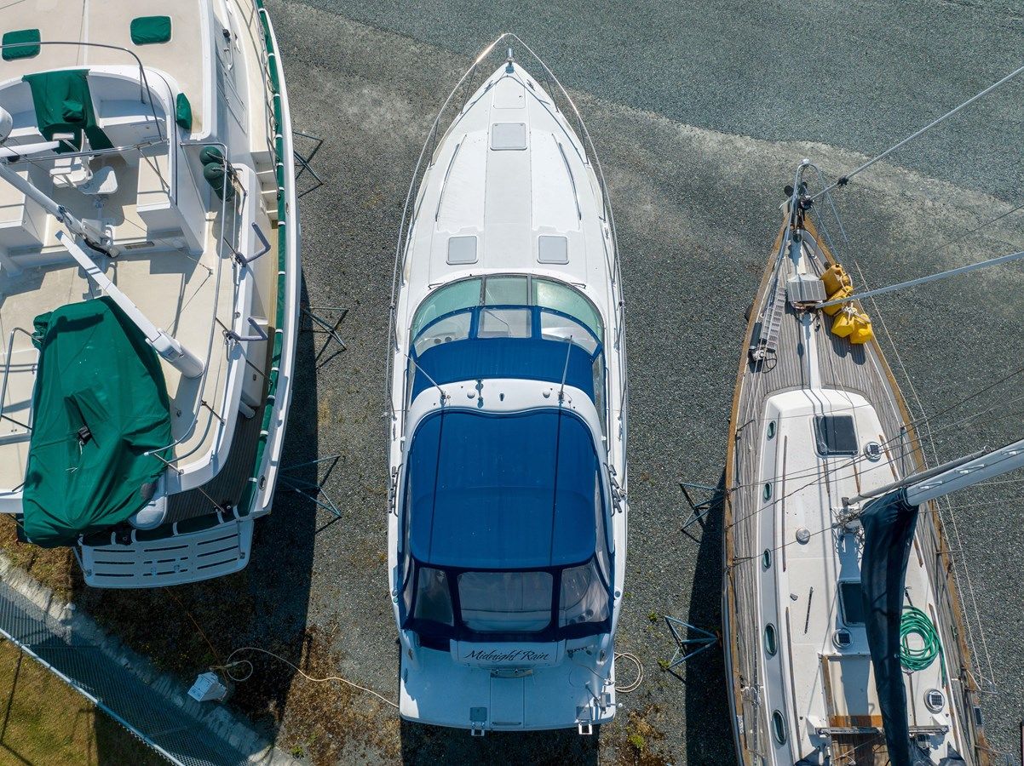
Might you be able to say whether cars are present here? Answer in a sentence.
No, there appears to be no car in this shot.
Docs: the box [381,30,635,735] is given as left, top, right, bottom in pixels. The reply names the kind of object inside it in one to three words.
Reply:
boat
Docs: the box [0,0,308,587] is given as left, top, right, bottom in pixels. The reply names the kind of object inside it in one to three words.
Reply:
boat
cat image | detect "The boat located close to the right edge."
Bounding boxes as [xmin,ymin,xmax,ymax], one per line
[713,67,1024,766]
